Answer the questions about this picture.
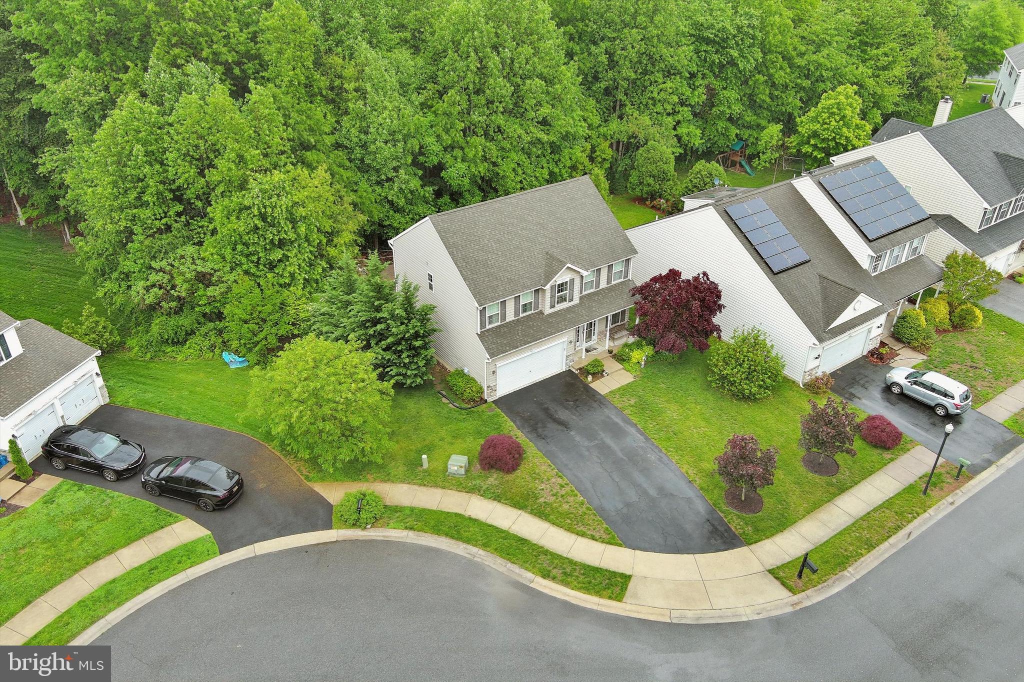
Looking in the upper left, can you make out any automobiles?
No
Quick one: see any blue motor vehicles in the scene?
No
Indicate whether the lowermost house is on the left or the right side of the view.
left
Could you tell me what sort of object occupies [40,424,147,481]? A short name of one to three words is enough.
car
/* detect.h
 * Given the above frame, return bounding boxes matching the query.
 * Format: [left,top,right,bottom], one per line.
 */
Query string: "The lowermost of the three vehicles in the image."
[138,454,245,511]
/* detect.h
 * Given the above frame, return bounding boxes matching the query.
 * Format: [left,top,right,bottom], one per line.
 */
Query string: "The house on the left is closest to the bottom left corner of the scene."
[0,306,109,470]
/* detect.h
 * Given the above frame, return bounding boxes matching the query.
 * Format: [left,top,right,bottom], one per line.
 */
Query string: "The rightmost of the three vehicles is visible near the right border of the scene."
[888,365,974,415]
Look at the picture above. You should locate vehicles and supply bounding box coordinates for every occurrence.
[40,424,147,481]
[888,365,974,415]
[138,454,245,511]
